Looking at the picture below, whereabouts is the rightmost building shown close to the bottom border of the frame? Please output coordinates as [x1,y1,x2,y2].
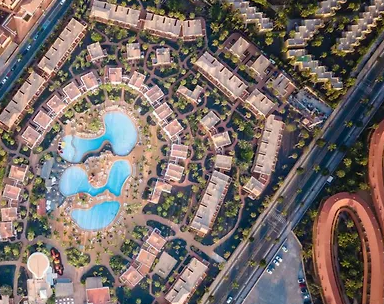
[311,193,384,304]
